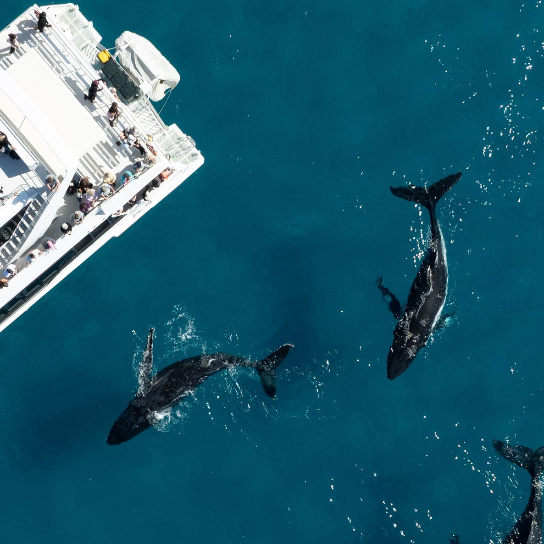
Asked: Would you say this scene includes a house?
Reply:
No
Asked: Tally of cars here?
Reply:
0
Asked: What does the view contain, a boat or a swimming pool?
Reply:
boat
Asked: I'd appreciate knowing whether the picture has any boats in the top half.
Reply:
Yes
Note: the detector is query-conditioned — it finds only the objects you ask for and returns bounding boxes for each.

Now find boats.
[118,29,178,103]
[0,8,202,337]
